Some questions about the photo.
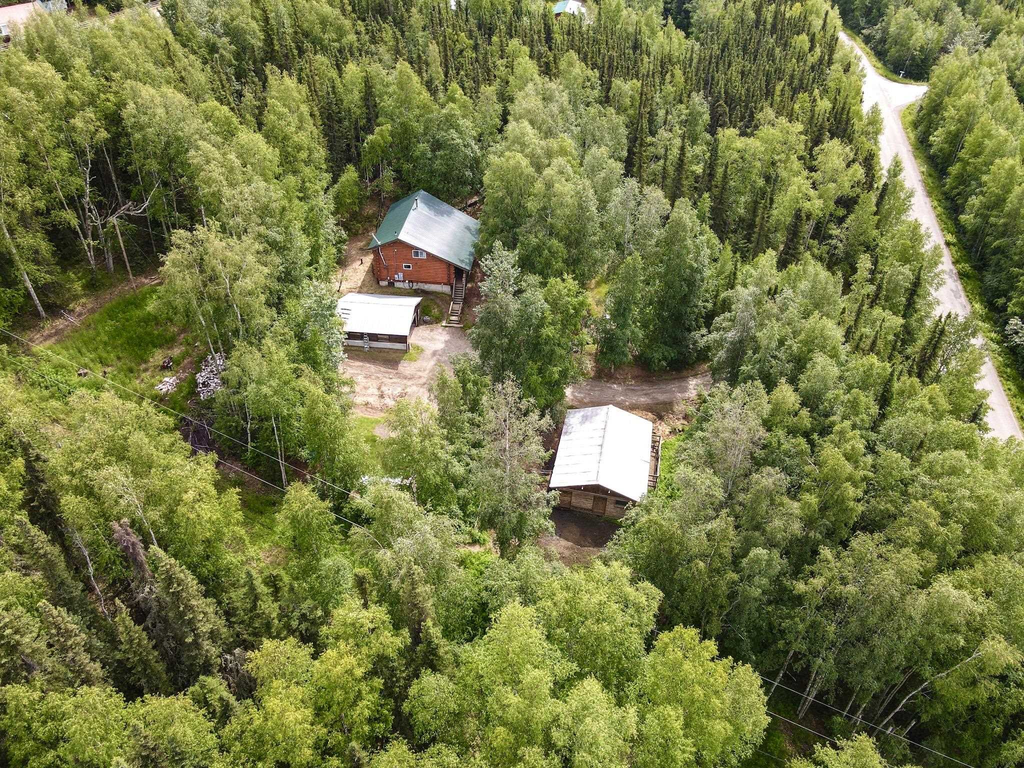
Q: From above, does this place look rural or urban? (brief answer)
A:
rural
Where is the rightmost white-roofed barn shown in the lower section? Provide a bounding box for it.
[549,404,651,518]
